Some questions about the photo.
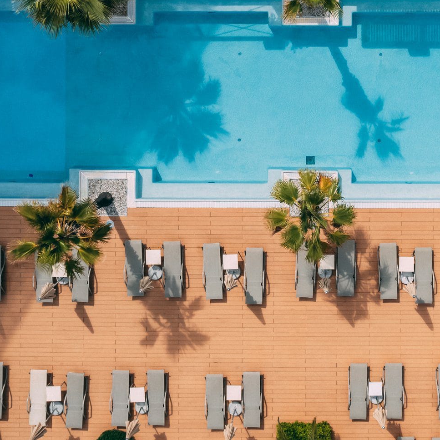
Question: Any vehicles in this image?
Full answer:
No, the photo shows no vehicle.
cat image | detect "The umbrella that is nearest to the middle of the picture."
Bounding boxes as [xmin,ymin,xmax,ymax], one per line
[222,267,241,293]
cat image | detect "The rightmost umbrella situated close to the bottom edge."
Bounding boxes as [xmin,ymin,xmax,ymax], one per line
[369,394,386,431]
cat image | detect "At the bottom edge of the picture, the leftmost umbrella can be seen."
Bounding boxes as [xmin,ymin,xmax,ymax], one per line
[32,401,63,440]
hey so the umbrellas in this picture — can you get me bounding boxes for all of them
[32,401,63,440]
[224,401,241,440]
[318,269,334,293]
[222,267,241,293]
[140,266,162,293]
[400,272,419,300]
[126,401,147,440]
[369,394,386,431]
[40,273,71,301]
